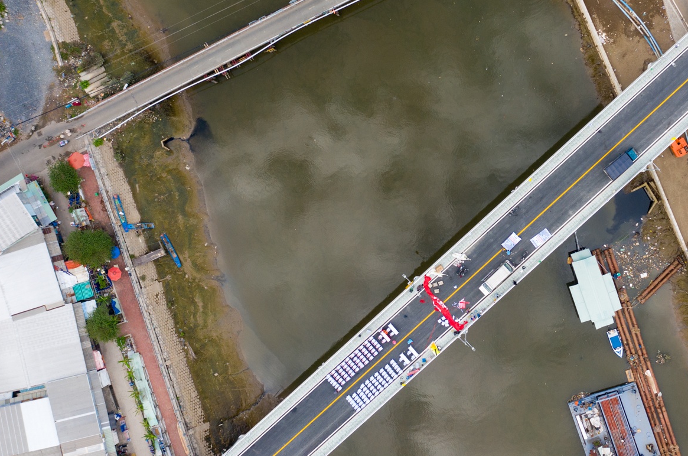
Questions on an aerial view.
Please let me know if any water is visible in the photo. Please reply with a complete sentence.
Yes, water shows up in the scene.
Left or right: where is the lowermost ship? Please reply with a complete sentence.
The lowermost ship is on the right side of the image.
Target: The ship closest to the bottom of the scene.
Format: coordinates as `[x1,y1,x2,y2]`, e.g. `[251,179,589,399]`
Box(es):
[568,381,658,456]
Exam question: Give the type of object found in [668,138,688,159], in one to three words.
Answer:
work vehicle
